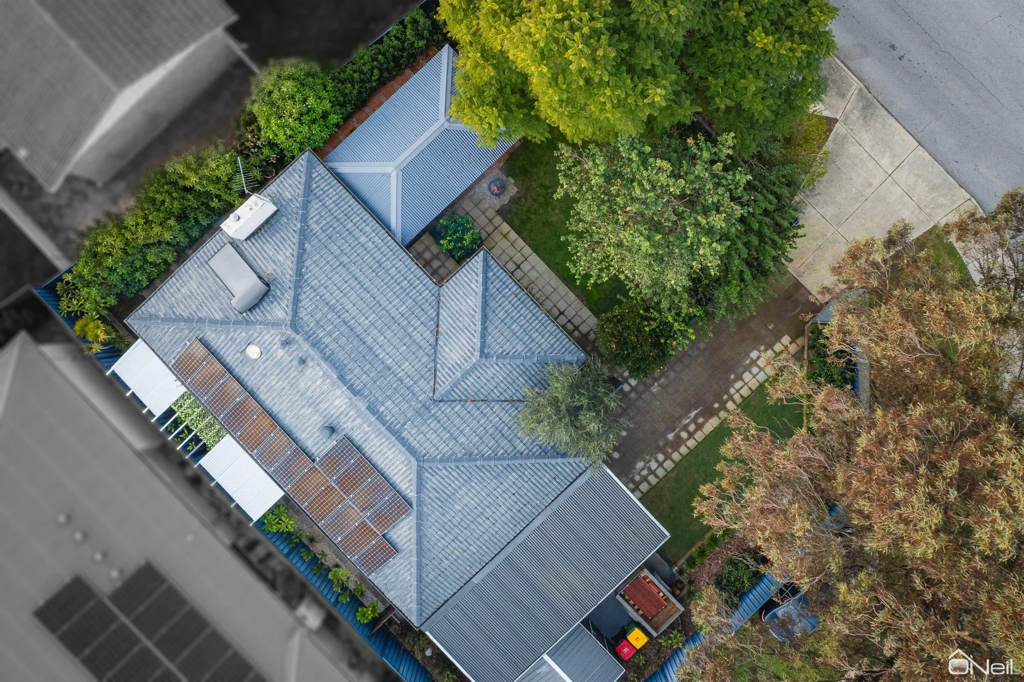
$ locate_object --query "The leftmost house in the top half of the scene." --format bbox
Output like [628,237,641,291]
[0,0,248,194]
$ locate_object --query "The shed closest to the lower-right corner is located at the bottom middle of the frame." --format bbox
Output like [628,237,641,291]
[519,618,627,682]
